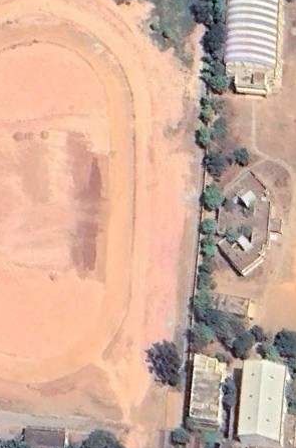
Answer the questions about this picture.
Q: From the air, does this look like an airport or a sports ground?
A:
sports ground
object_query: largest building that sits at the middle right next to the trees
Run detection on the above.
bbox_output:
[218,171,270,277]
